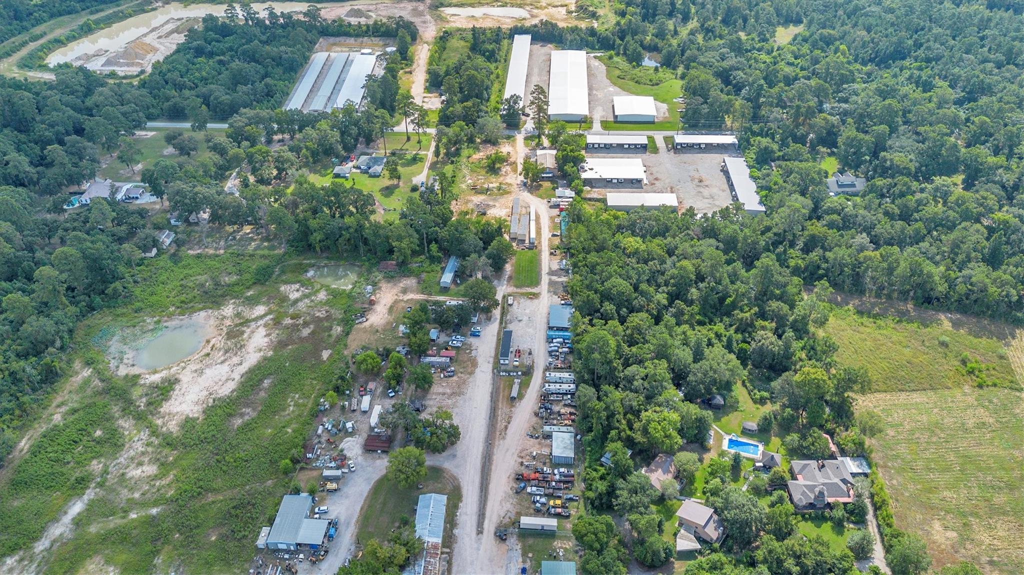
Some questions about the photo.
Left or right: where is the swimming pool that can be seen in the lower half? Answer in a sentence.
The swimming pool that can be seen in the lower half sits on the right side.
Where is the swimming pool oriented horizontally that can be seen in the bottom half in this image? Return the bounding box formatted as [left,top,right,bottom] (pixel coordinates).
[722,434,763,459]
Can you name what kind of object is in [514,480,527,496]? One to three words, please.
vehicle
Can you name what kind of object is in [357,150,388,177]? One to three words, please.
house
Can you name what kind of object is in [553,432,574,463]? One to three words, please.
building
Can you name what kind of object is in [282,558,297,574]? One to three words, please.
work vehicle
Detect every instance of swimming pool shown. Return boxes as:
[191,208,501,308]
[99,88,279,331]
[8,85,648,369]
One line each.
[63,195,81,208]
[722,434,763,459]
